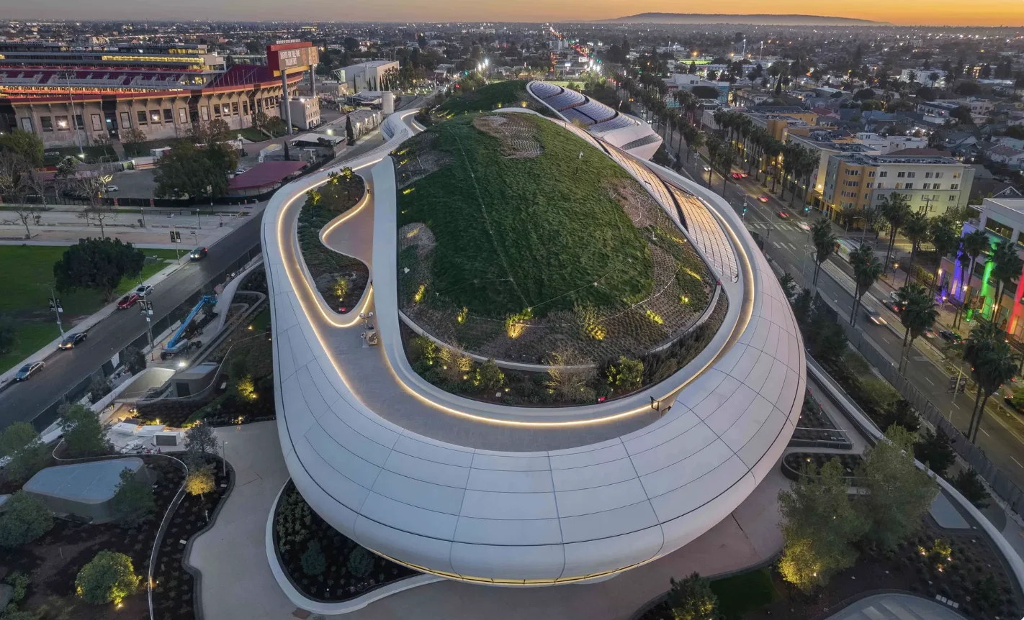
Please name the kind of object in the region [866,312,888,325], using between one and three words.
vehicle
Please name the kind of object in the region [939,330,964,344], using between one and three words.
car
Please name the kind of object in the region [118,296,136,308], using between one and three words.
vehicle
